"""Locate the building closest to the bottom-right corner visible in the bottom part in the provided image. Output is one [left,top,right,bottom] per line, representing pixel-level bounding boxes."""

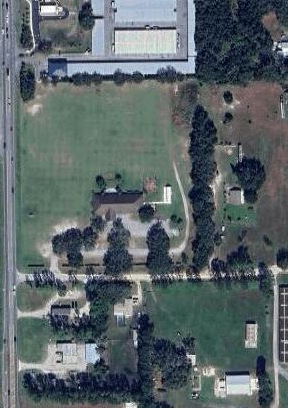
[226,375,251,395]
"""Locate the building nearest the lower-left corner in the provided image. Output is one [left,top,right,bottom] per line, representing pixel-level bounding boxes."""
[58,344,77,364]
